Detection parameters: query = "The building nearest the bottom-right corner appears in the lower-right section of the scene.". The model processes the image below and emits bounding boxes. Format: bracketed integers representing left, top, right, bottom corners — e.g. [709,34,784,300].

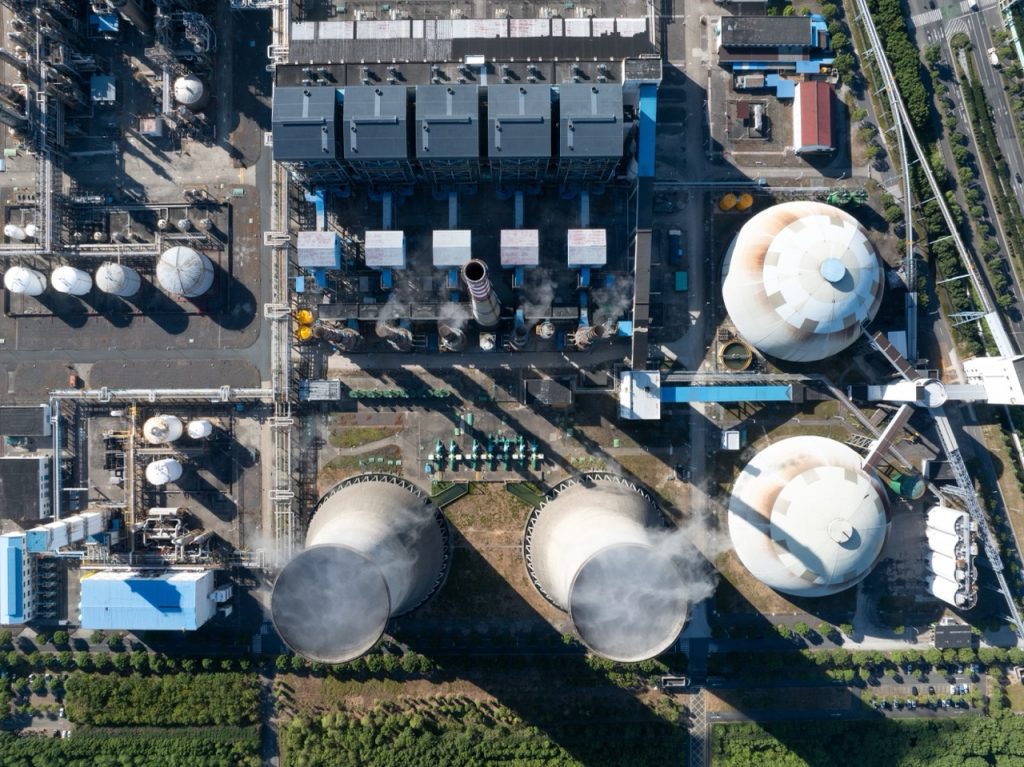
[930,624,972,648]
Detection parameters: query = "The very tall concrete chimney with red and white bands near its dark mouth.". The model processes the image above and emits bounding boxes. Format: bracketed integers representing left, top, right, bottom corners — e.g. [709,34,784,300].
[457,260,501,328]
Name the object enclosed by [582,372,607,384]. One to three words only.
shed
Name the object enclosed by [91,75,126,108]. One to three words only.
building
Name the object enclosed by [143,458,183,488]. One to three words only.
storage tank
